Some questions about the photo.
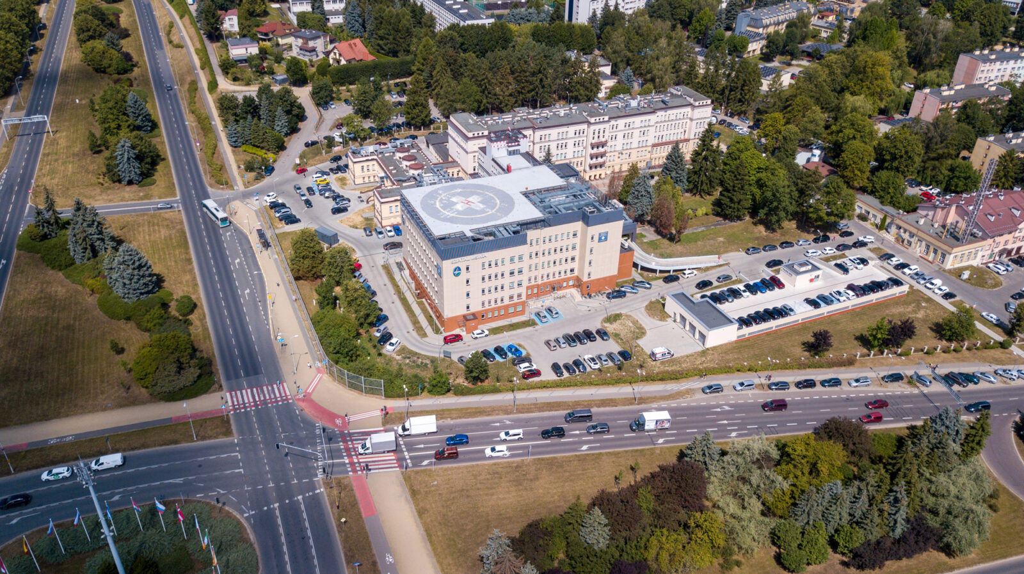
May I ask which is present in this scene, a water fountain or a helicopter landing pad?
helicopter landing pad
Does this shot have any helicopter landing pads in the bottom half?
No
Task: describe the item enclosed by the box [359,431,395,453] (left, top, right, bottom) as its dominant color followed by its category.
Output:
white truck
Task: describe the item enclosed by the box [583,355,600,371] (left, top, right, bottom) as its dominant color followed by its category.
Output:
white car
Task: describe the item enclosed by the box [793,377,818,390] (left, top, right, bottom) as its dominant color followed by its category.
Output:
black vehicle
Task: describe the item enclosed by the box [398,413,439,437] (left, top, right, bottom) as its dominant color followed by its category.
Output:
white truck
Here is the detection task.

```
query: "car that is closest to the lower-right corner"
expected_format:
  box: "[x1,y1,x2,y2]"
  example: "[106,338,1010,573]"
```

[964,400,991,413]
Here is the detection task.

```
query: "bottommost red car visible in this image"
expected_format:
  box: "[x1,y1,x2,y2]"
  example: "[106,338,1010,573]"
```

[434,446,460,461]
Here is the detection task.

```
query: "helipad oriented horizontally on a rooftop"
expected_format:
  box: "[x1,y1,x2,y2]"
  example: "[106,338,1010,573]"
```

[398,151,573,240]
